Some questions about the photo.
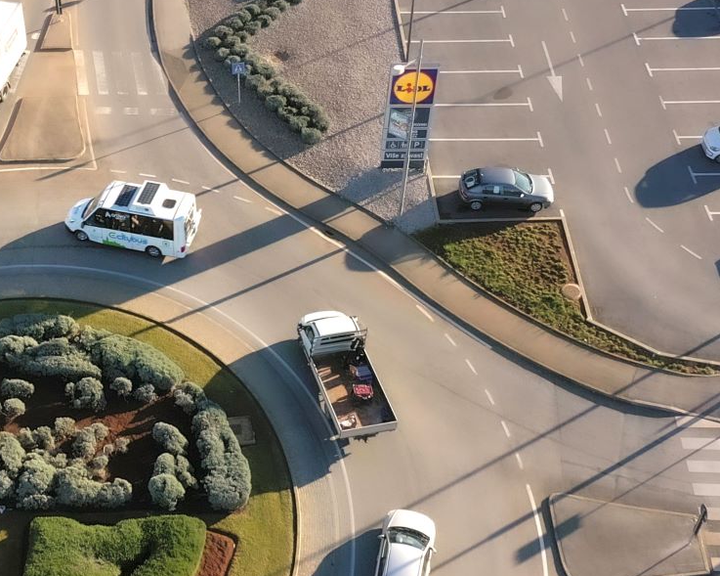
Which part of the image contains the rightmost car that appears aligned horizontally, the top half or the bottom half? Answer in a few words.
top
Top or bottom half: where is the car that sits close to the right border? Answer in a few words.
top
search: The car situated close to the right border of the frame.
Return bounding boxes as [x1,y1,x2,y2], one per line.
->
[699,121,720,158]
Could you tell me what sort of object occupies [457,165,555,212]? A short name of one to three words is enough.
car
